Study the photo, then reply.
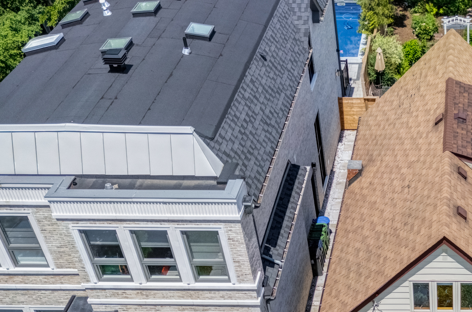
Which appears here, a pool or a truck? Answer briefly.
pool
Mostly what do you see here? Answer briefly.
buildings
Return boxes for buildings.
[316,31,472,312]
[0,0,349,312]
